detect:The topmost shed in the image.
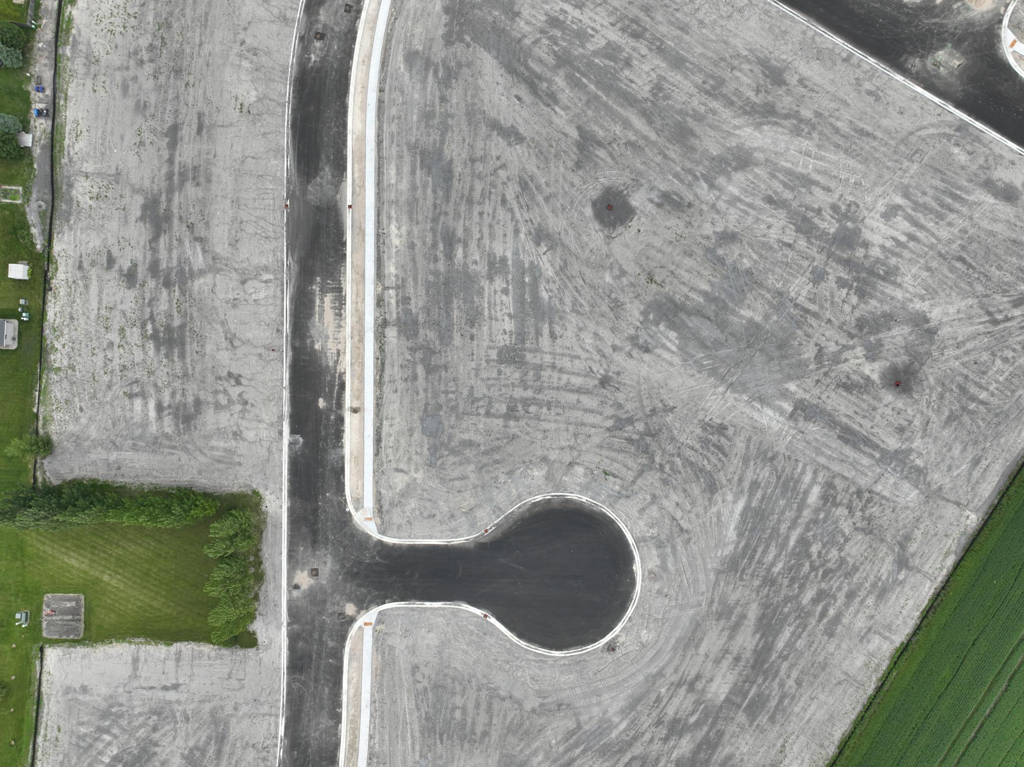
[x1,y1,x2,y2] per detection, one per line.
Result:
[11,263,35,281]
